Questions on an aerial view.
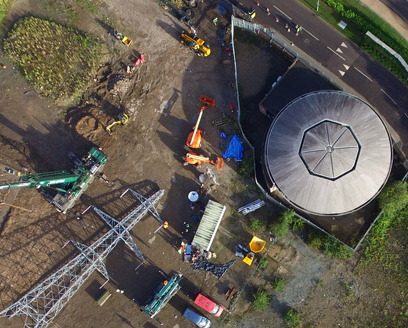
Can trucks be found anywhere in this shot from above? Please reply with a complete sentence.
Yes, the image includes a truck.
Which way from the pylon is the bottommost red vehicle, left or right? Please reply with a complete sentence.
In the image, the bottommost red vehicle sits on the right side of the pylon.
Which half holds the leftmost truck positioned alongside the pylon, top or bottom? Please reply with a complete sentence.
It is in the bottom half that the leftmost truck positioned alongside the pylon appears.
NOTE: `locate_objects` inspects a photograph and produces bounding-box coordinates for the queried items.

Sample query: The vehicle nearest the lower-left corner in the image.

[142,271,188,317]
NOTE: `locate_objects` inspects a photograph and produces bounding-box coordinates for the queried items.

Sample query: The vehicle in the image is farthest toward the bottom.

[183,308,211,328]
